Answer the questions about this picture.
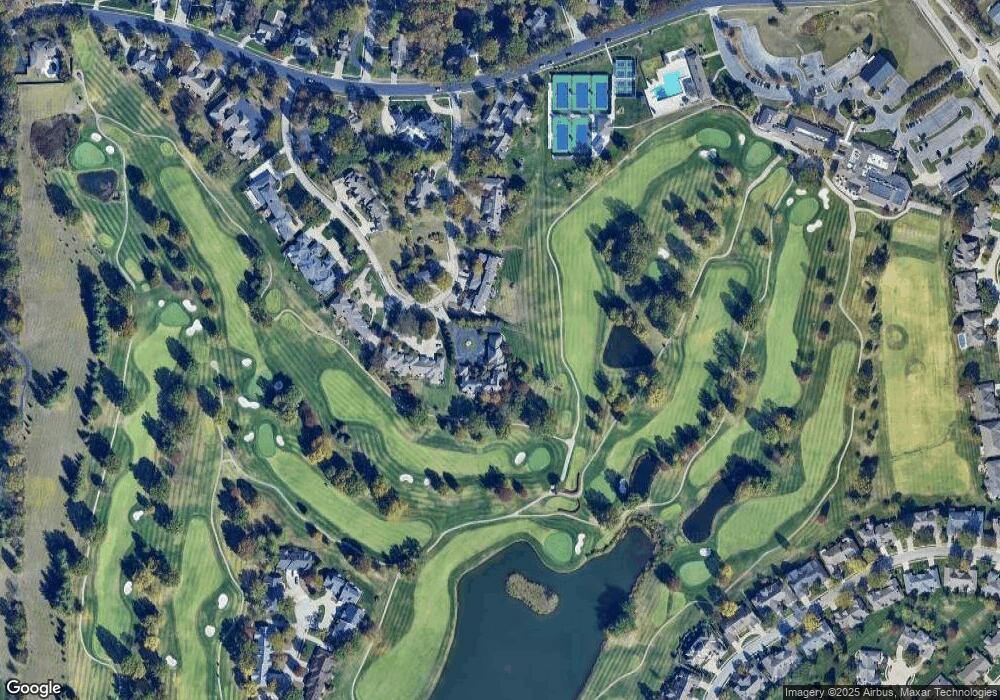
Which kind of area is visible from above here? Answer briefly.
golf course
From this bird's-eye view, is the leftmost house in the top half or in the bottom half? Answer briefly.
top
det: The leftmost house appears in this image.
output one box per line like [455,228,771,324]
[8,42,57,72]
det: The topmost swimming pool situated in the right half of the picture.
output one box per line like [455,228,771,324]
[646,49,700,116]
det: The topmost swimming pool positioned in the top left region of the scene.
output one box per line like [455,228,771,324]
[45,60,60,77]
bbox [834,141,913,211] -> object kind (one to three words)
building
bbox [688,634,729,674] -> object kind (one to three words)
house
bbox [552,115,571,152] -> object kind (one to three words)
tennis court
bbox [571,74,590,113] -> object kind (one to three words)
tennis court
